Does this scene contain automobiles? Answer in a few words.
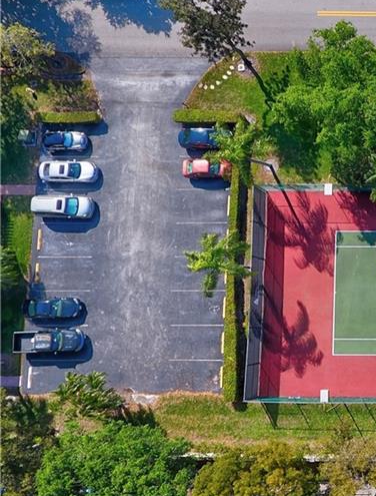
Yes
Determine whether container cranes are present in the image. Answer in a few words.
No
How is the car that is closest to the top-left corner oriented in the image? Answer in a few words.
from left to right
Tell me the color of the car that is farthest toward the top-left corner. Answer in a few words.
blue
